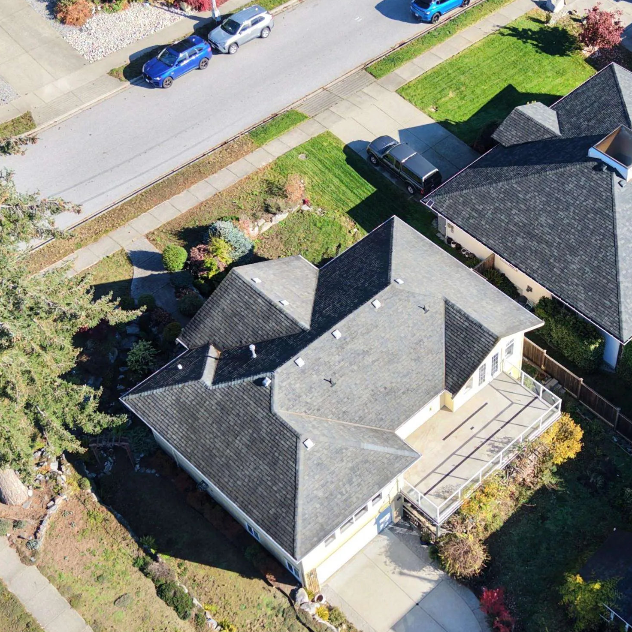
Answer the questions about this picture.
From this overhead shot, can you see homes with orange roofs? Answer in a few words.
No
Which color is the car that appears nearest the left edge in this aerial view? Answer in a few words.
blue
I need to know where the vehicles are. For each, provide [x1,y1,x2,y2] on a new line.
[409,0,471,24]
[365,135,442,193]
[138,36,212,89]
[205,5,273,55]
